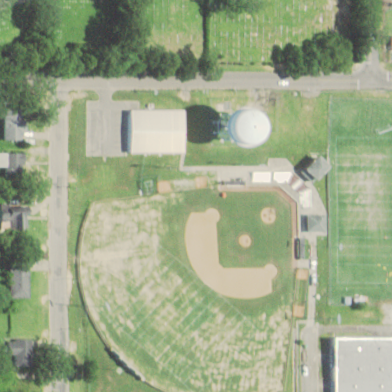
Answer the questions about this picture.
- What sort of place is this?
sports ground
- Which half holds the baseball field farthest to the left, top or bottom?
bottom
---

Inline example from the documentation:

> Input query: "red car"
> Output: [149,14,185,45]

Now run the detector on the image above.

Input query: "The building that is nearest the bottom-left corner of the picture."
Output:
[9,340,32,366]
